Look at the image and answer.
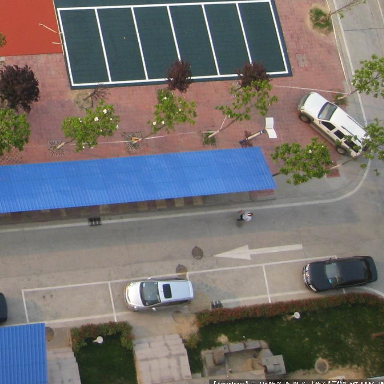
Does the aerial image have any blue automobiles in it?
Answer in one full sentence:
No, no blue automobile is visible in the scene.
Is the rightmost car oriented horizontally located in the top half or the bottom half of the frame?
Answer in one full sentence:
Seen from above, the rightmost car oriented horizontally lies in the bottom half of the view.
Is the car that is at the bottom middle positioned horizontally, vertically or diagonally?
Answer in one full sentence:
In this picture, the car that is at the bottom middle lies horizontally.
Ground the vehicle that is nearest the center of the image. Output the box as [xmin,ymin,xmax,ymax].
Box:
[121,274,200,314]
